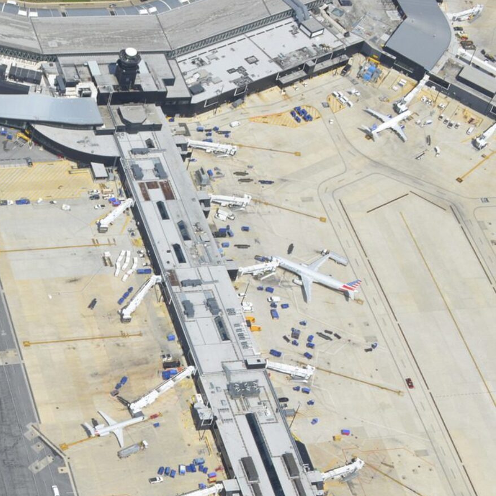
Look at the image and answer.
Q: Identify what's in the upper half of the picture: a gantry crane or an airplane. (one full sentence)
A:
What appears in the upper half of the picture is an airplane.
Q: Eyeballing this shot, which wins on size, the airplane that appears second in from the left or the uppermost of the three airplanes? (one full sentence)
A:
The larger object is the airplane that appears second in from the left, with the uppermost of the three airplanes being the smaller of the pair.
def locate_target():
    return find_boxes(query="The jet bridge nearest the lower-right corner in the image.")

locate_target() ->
[323,457,366,484]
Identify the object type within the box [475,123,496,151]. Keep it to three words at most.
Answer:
jet bridge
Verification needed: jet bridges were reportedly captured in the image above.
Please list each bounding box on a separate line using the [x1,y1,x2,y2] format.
[323,457,366,484]
[475,123,496,151]
[233,259,281,281]
[132,366,194,419]
[99,198,132,235]
[447,5,482,24]
[190,483,224,496]
[266,361,319,382]
[209,195,254,212]
[122,275,161,325]
[187,140,239,158]
[397,76,430,116]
